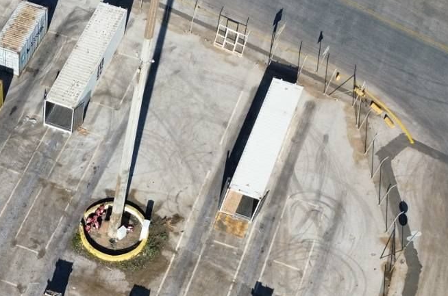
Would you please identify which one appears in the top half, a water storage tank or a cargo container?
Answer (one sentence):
What appears in the top half is a cargo container.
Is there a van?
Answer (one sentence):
No, no van can be seen from above.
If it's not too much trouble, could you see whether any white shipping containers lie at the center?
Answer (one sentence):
Yes, you'll find a white shipping container at the center.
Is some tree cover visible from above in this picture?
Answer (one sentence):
No, there's no tree cover in this view.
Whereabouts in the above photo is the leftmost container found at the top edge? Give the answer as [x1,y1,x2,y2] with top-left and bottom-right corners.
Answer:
[0,0,48,76]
